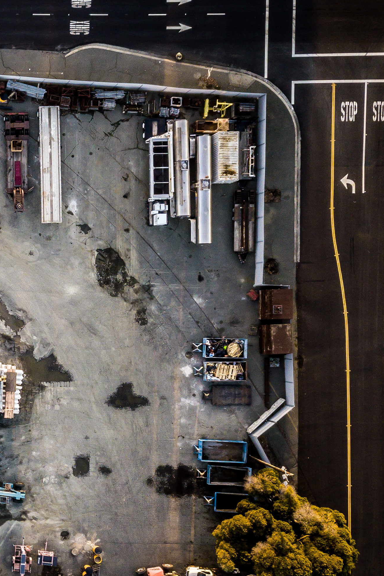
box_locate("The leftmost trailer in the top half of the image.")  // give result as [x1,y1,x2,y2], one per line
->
[4,112,29,211]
